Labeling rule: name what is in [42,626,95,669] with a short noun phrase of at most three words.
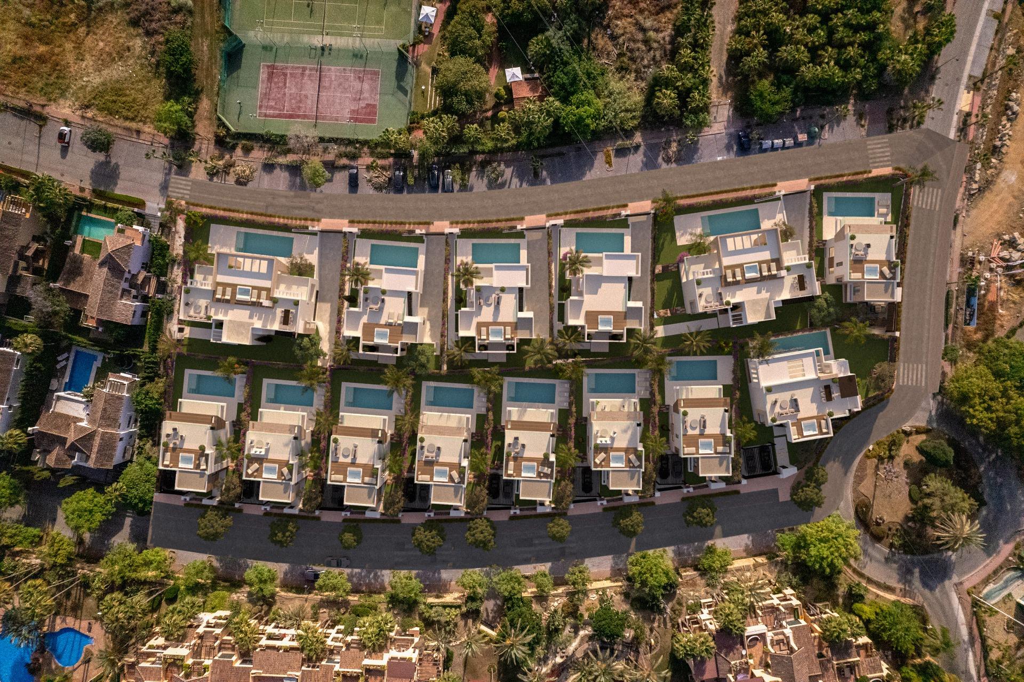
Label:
swimming pool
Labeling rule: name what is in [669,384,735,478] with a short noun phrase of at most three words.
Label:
house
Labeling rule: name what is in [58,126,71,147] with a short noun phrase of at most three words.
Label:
vehicle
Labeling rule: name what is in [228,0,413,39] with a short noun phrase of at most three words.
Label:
tennis court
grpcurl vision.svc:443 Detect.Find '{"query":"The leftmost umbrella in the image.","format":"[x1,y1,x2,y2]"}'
[418,7,437,26]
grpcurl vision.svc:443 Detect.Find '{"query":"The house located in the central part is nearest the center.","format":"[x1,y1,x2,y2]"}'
[458,265,535,355]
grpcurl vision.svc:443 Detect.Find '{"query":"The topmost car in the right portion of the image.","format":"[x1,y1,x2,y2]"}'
[737,128,751,152]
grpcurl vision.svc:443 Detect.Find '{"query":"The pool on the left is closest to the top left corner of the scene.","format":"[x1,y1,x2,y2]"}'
[70,214,119,257]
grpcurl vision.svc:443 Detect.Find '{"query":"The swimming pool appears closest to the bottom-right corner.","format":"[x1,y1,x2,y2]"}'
[981,567,1024,606]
